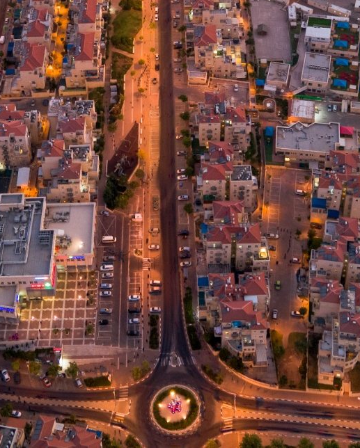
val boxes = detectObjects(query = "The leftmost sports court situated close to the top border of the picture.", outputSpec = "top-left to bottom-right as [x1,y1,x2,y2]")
[251,0,290,59]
